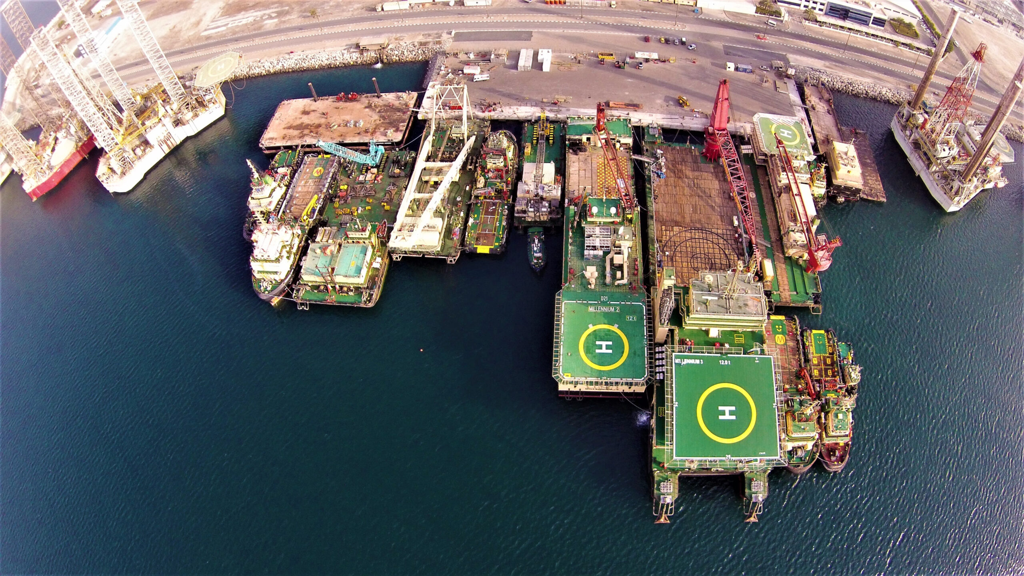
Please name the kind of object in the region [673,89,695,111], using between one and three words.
work vehicle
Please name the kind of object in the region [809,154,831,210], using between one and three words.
boat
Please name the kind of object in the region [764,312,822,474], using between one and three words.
ship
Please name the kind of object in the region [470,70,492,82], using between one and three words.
vehicle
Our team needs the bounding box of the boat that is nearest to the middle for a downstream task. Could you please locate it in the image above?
[526,229,547,274]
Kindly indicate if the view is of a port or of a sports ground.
port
